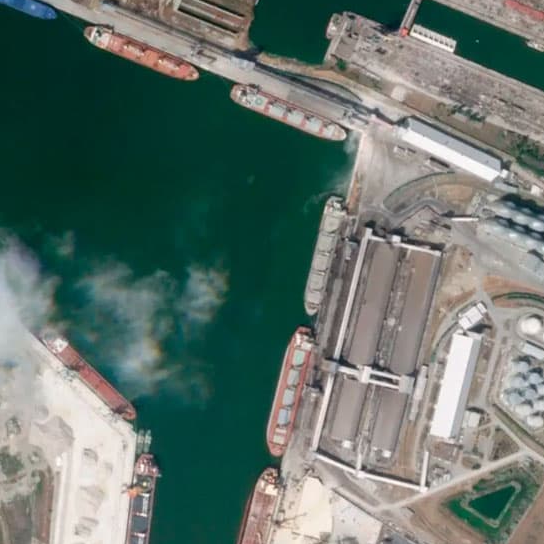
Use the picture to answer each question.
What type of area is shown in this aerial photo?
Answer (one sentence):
What you see here is a port.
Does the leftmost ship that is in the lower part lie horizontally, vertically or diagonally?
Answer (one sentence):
The leftmost ship that is in the lower part is laid out diagonally.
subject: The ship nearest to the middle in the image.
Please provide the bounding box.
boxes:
[305,195,346,316]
